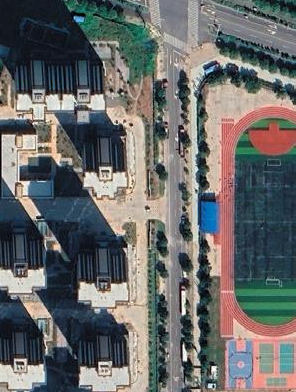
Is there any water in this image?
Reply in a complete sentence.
No, there's no water in this view.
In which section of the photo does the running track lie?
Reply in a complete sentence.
The running track is located in the right region of the scene.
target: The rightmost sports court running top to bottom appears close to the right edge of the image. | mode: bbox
[280,343,294,372]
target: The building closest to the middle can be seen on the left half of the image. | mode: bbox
[81,134,128,199]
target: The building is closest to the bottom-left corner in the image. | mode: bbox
[0,326,47,391]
